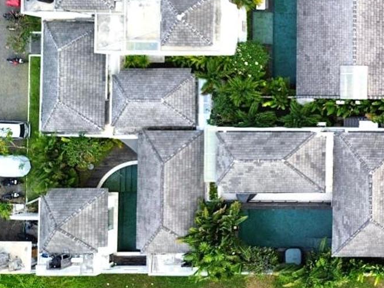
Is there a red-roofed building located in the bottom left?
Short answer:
No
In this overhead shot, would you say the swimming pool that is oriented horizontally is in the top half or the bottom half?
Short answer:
bottom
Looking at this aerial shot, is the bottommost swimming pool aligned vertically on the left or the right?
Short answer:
left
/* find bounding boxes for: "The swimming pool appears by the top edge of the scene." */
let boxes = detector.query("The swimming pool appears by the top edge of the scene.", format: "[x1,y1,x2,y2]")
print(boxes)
[252,0,296,89]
